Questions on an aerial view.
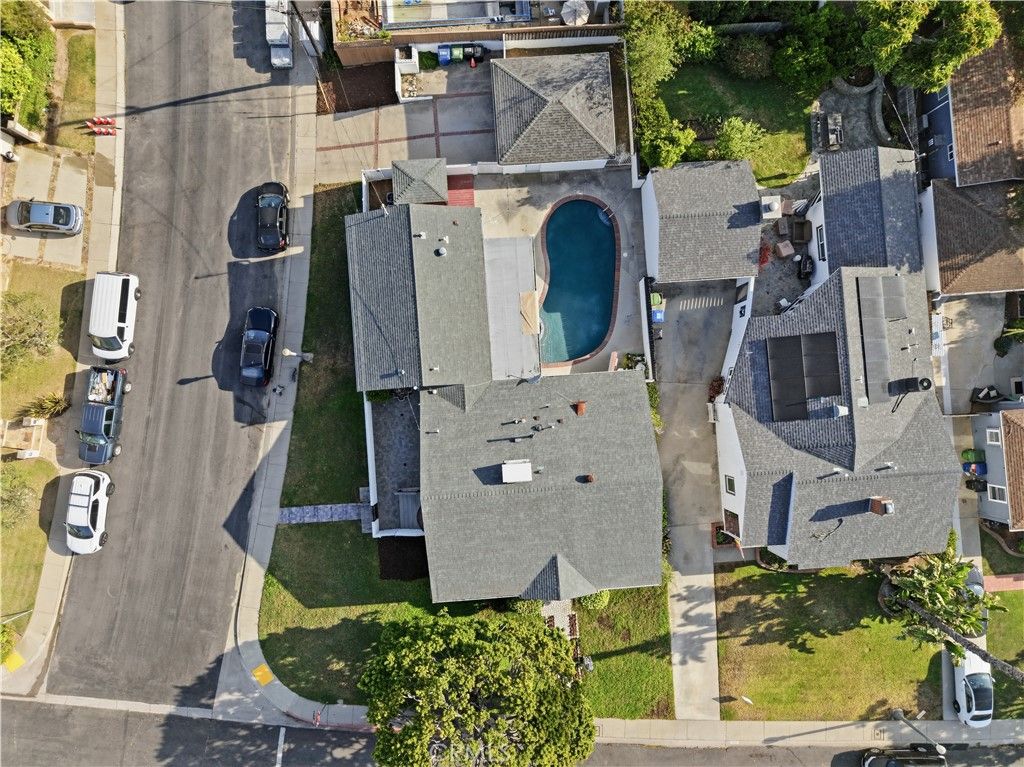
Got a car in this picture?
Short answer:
Yes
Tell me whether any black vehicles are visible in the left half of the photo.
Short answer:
Yes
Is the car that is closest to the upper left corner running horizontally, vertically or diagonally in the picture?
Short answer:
horizontally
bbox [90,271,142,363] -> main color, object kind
white van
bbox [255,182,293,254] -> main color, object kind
black car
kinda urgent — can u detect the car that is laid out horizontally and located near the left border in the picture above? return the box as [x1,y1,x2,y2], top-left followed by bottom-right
[7,196,85,232]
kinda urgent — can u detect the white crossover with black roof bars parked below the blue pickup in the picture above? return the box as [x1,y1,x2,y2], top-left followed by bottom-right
[65,471,115,556]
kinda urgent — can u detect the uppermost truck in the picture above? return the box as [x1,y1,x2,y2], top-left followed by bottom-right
[258,0,296,70]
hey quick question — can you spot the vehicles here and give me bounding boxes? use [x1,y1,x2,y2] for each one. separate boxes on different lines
[65,471,115,556]
[90,271,142,363]
[241,305,281,387]
[258,0,296,70]
[951,643,993,727]
[255,182,293,254]
[860,747,946,767]
[82,367,133,467]
[7,196,85,232]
